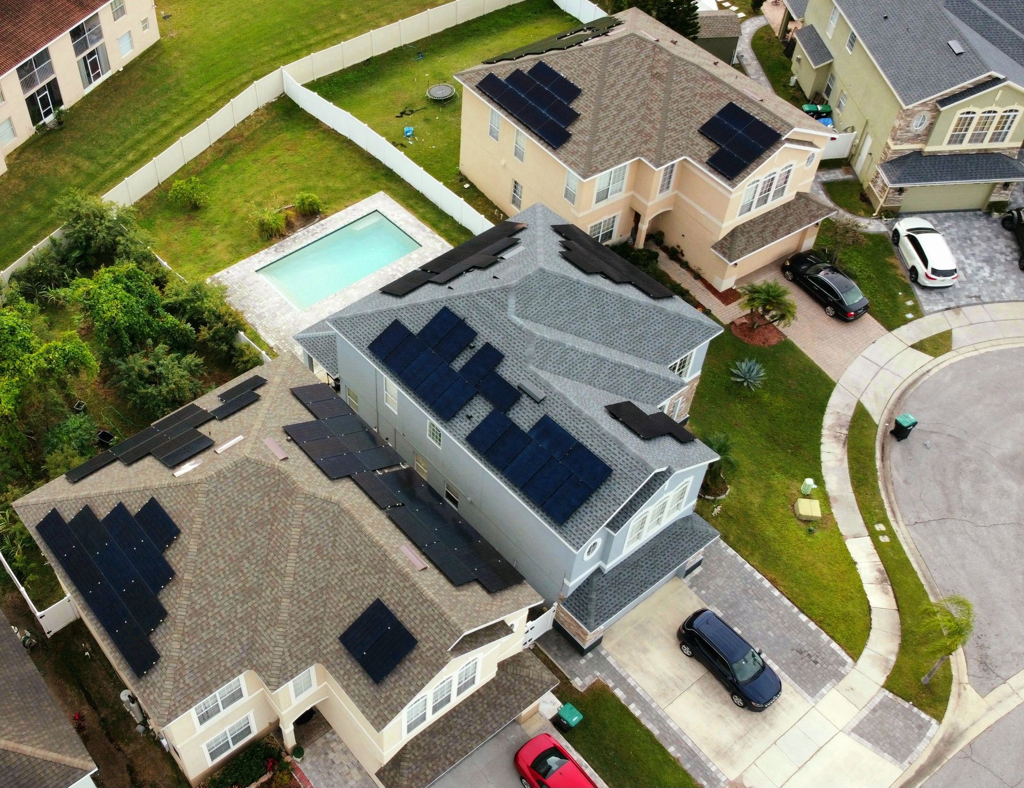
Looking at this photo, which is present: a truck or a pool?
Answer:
pool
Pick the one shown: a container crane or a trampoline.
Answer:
trampoline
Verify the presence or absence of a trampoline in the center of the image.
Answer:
No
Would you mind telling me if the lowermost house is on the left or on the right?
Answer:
left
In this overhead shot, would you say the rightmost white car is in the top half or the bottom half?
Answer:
top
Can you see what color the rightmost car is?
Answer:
black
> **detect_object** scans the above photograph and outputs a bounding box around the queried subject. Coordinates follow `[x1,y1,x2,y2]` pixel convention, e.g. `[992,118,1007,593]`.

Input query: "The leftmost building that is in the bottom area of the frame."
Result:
[0,621,101,788]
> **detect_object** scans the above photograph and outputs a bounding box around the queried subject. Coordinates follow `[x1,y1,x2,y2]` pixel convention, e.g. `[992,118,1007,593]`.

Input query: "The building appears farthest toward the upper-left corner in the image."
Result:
[0,0,160,168]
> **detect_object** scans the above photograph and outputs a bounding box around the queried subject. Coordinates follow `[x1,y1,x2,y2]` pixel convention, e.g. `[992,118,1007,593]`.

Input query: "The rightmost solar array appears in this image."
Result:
[700,103,779,178]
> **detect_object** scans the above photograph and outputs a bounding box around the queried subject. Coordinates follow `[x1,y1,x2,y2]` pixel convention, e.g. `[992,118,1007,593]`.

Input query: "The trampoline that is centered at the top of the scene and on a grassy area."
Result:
[426,74,457,108]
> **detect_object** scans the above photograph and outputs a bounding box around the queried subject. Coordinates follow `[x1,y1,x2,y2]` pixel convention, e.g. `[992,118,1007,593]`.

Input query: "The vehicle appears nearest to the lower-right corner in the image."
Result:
[672,606,783,717]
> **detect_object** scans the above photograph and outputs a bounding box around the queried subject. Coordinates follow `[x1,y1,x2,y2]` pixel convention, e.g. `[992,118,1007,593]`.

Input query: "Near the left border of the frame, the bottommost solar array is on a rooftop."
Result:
[32,499,180,678]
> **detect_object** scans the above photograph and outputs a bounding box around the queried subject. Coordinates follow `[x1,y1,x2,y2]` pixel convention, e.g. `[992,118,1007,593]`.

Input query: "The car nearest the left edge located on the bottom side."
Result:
[510,732,603,788]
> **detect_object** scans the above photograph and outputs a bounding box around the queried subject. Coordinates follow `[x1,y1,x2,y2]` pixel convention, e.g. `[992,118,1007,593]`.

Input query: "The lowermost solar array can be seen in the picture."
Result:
[339,601,416,684]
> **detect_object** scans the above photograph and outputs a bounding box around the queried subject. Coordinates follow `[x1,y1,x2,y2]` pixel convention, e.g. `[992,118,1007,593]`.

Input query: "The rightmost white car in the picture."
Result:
[892,218,957,290]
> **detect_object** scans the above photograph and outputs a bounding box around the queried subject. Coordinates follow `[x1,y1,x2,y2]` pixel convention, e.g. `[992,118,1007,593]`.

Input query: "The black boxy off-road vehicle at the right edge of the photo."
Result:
[1002,210,1024,265]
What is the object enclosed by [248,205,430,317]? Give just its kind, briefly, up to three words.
swimming pool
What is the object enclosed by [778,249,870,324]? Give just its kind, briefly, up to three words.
car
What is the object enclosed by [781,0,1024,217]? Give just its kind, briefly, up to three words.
building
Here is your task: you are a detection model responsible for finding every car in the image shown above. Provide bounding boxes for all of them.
[672,606,783,717]
[1002,210,1024,265]
[778,249,870,324]
[510,732,603,788]
[892,218,957,290]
